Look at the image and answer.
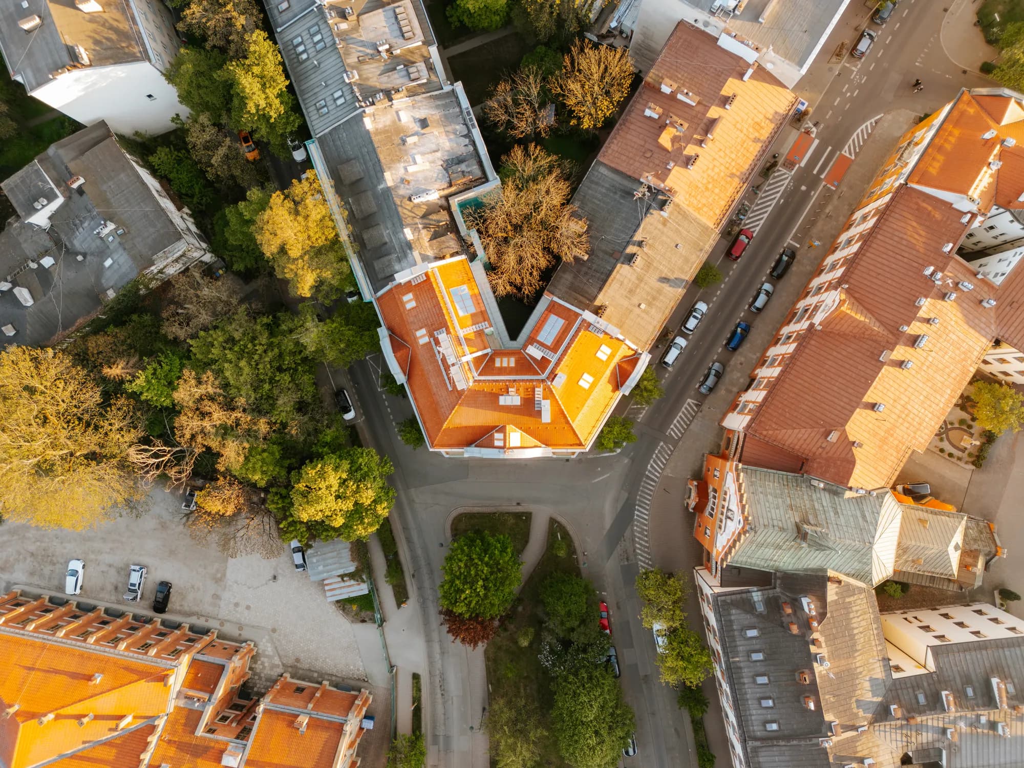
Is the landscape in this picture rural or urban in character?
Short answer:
urban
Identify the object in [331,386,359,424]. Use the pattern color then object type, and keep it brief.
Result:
black car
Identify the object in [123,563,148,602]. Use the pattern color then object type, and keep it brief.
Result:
gray car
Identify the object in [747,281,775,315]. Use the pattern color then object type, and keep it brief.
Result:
gray car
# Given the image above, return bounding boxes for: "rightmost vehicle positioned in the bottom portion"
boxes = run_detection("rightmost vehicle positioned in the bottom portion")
[893,481,936,498]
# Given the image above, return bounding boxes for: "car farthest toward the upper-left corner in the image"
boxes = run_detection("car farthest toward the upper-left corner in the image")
[237,129,263,165]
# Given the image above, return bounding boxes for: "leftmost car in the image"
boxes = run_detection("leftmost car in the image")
[66,559,87,594]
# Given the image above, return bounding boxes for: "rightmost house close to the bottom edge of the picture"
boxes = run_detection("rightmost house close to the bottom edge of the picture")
[693,568,1024,768]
